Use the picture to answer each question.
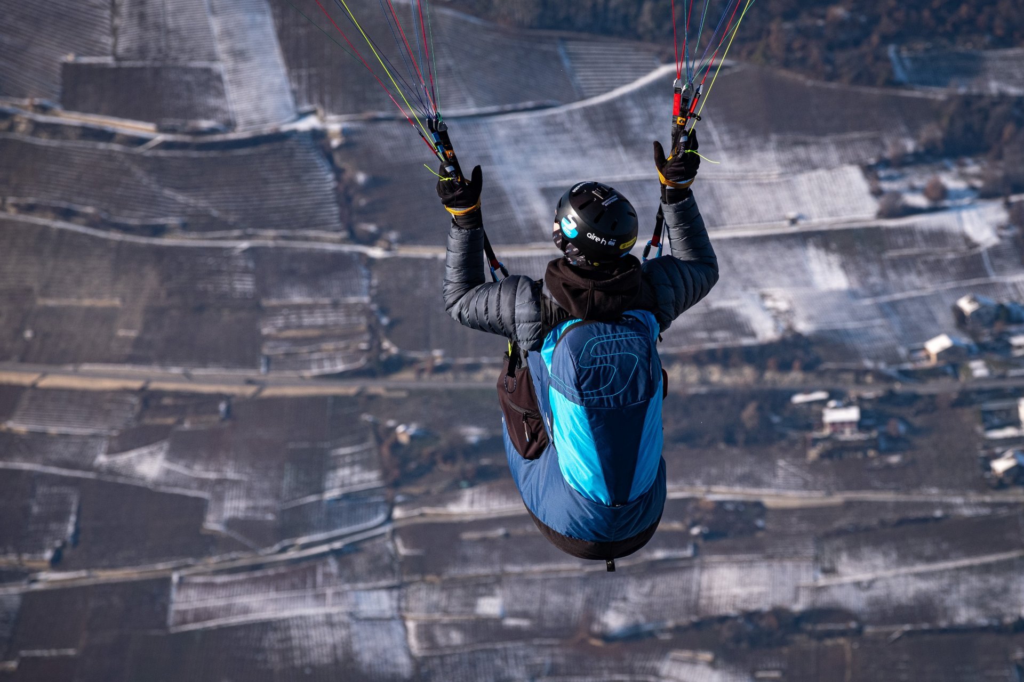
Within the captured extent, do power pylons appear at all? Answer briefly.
No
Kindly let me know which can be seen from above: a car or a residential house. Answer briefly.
residential house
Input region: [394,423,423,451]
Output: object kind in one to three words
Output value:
house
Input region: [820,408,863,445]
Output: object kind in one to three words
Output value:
house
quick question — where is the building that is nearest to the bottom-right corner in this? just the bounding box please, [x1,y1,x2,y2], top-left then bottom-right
[985,454,1024,493]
